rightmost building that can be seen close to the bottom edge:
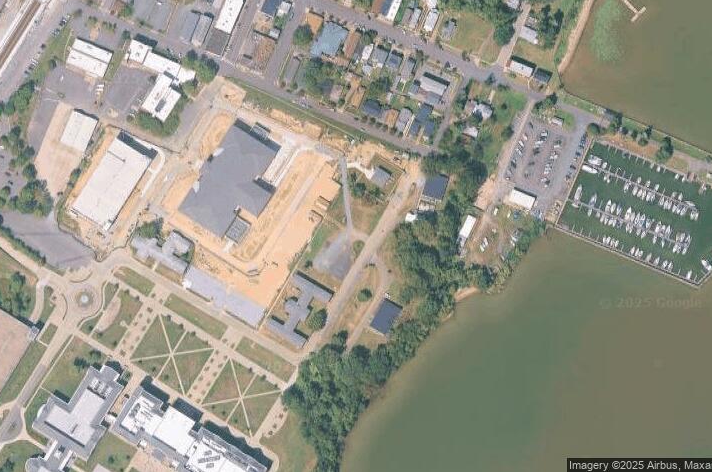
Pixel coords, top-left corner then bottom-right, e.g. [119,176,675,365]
[112,387,267,472]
